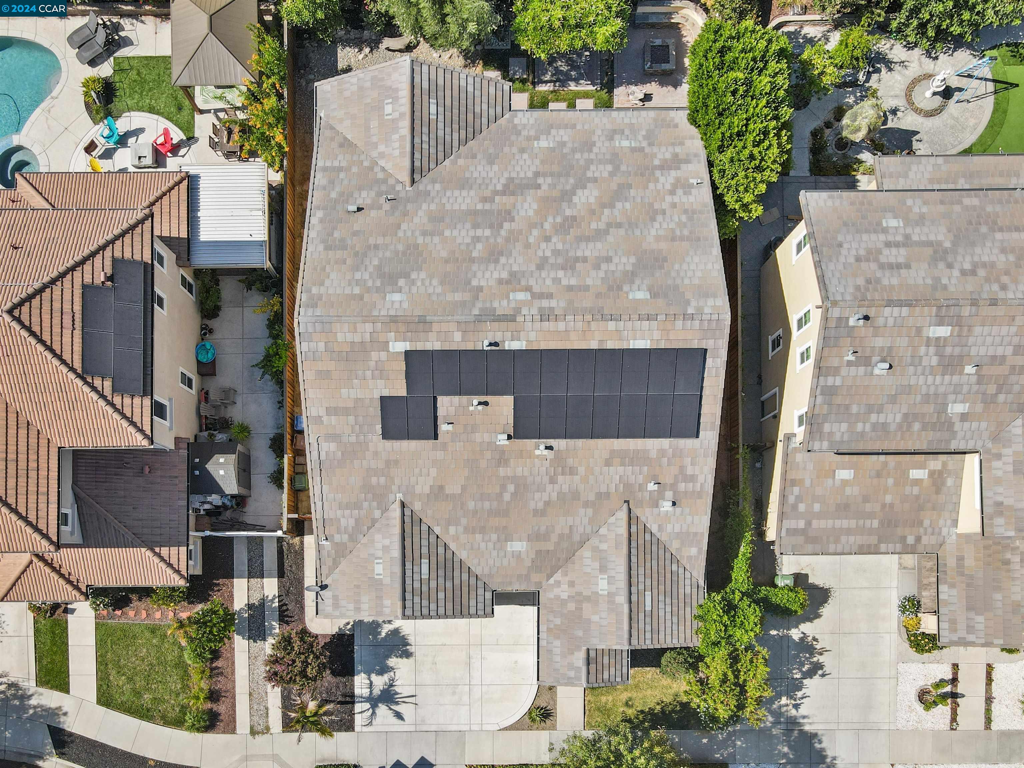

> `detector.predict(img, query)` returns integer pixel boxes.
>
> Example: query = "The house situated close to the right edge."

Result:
[759,152,1024,649]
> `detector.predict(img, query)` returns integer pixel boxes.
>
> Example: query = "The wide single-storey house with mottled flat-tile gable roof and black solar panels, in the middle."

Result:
[294,54,730,687]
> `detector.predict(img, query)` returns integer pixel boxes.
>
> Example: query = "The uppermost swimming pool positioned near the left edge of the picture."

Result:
[0,28,68,138]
